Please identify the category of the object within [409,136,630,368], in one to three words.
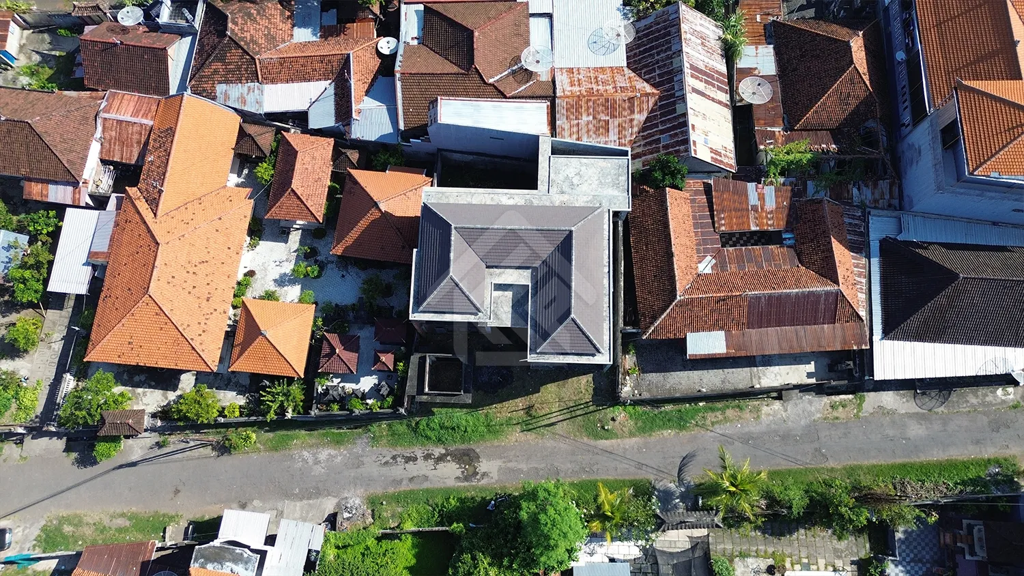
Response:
house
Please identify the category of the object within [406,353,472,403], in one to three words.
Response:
shed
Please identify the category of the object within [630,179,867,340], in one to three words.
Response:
house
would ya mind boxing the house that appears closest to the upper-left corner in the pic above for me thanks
[0,11,38,71]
